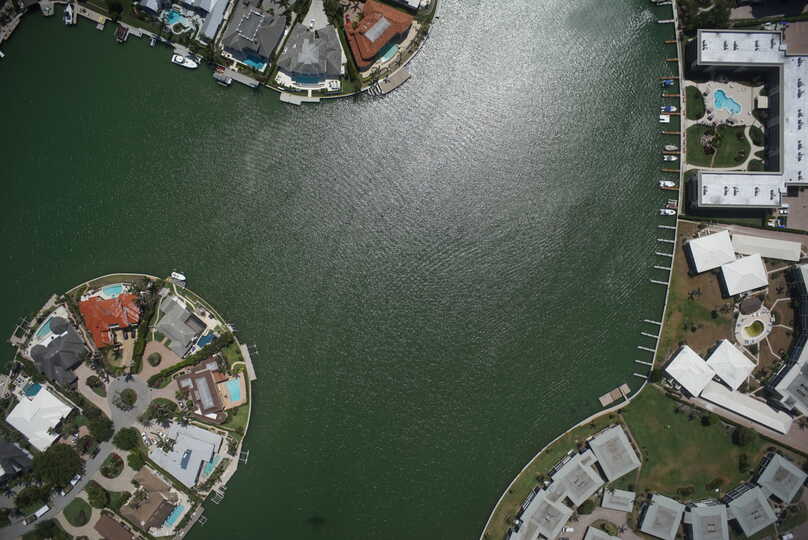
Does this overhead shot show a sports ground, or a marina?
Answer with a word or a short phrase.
marina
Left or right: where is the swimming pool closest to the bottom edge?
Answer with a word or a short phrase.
left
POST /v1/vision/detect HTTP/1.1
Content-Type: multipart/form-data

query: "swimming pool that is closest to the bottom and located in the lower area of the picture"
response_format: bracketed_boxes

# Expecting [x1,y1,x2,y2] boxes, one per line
[164,504,185,528]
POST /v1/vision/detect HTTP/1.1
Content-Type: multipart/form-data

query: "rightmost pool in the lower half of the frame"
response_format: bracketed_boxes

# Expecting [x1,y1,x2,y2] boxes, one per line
[744,320,765,337]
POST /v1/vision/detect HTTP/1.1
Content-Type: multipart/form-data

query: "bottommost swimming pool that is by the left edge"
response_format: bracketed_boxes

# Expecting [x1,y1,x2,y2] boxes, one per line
[23,383,42,397]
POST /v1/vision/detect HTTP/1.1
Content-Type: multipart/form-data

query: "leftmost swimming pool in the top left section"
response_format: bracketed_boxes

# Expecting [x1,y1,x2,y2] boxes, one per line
[167,10,185,24]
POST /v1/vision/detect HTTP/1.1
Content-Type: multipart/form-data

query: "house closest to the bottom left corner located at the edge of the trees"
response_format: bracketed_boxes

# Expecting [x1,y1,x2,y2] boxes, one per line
[0,441,37,475]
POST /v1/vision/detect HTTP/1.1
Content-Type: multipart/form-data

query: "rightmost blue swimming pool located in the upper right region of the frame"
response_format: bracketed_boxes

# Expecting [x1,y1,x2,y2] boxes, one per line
[714,88,742,113]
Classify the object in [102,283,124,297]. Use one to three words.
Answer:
swimming pool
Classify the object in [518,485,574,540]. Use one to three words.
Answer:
building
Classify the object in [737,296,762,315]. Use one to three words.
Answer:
gazebo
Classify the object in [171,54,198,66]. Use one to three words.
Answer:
boat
